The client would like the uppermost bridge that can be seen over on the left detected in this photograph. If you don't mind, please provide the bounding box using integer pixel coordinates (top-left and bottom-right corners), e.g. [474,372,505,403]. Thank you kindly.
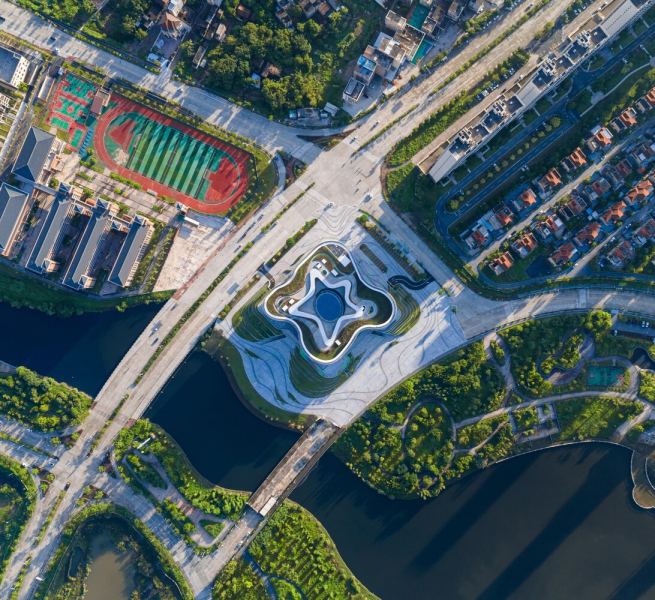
[102,306,201,413]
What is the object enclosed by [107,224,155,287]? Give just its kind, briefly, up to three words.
building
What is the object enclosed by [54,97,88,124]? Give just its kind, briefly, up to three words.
basketball court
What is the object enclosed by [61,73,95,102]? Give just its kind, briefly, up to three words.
basketball court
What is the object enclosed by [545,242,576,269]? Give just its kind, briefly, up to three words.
house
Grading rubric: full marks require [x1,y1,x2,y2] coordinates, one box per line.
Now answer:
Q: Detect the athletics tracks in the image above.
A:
[96,90,255,212]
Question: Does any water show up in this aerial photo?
Yes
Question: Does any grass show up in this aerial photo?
Yes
